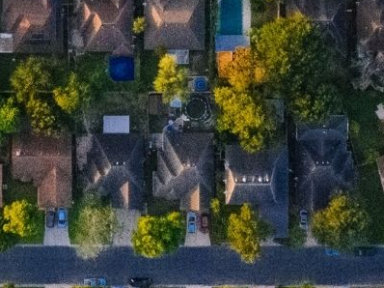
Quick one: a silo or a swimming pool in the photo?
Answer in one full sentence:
It is a swimming pool that can be seen here.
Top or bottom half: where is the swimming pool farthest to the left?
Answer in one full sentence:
You can find the swimming pool farthest to the left in the top half.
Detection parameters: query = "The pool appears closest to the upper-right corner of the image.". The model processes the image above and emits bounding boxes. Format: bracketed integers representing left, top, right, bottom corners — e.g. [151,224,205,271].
[218,0,244,36]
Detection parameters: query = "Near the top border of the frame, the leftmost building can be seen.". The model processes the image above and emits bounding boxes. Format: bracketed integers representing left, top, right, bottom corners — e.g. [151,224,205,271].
[0,0,63,53]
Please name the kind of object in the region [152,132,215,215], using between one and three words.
house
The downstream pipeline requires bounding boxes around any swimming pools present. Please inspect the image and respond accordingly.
[194,77,206,91]
[110,56,134,81]
[218,0,244,36]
